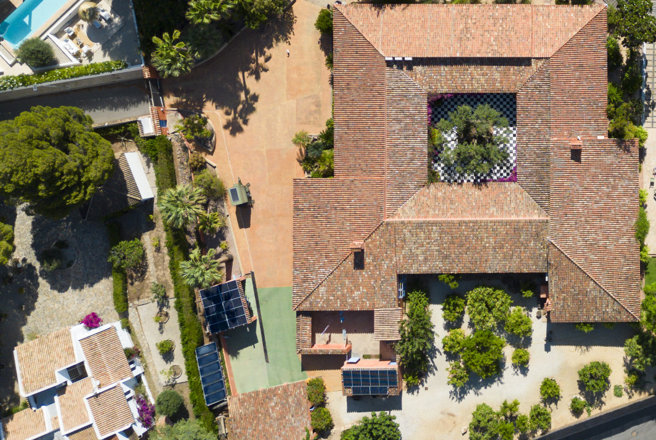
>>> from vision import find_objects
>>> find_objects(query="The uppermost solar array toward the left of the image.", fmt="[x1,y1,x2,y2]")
[200,281,247,333]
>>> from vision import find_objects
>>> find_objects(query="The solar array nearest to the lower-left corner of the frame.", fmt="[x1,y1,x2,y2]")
[196,340,233,404]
